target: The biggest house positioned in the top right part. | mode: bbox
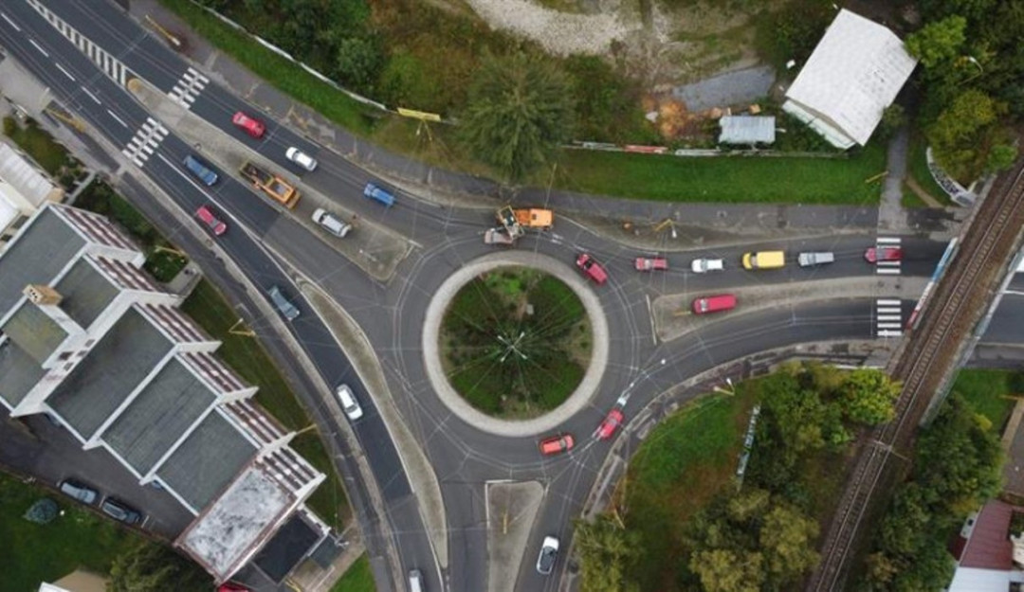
[775,8,918,152]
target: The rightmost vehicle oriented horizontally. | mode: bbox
[863,246,902,263]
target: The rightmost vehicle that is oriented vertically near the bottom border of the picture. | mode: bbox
[536,536,558,577]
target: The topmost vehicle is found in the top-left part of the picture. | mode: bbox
[233,113,266,139]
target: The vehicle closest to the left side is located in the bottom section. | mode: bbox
[58,479,100,503]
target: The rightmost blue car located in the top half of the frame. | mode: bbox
[364,184,396,206]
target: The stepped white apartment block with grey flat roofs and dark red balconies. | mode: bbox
[0,200,351,588]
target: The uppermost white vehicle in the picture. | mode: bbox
[286,146,319,172]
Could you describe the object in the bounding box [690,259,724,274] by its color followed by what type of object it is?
white car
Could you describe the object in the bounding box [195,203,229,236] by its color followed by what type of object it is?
red car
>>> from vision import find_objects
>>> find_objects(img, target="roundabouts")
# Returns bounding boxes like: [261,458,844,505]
[424,251,607,435]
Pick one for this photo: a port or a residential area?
residential area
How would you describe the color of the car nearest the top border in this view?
red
